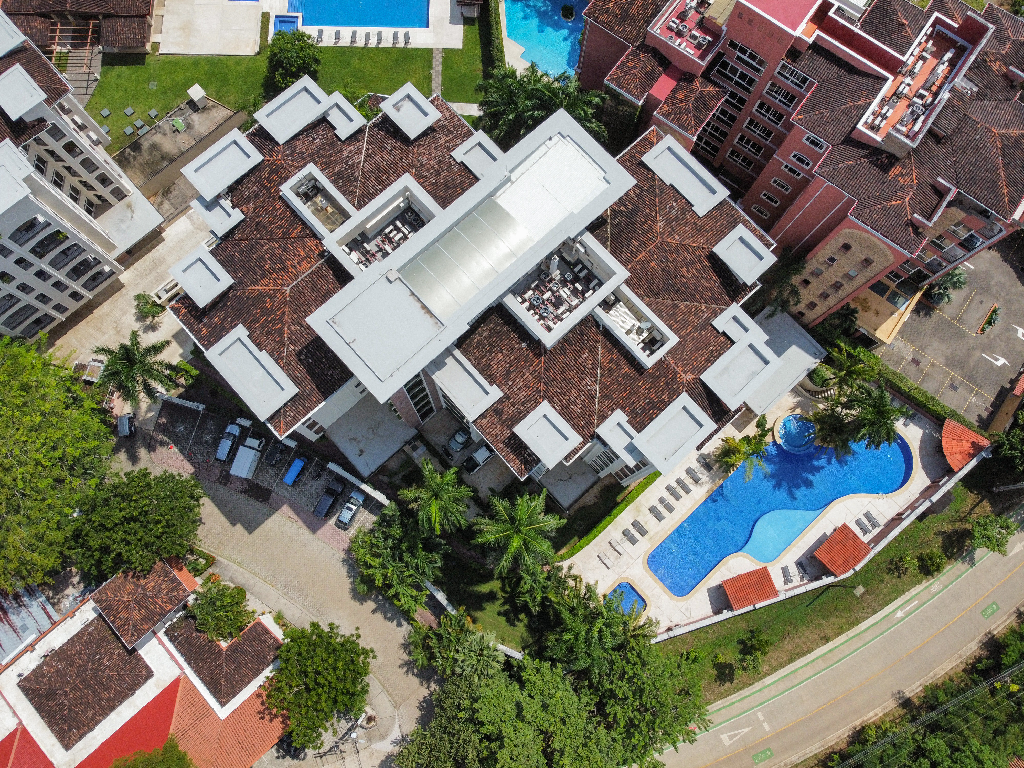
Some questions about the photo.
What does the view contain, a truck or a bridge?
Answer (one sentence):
It is a truck that can be seen here.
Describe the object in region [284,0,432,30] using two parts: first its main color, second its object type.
blue swimming pool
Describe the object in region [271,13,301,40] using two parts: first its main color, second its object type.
blue swimming pool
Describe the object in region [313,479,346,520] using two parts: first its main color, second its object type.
black car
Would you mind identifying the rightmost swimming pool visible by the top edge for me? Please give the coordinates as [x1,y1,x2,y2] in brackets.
[505,0,588,79]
